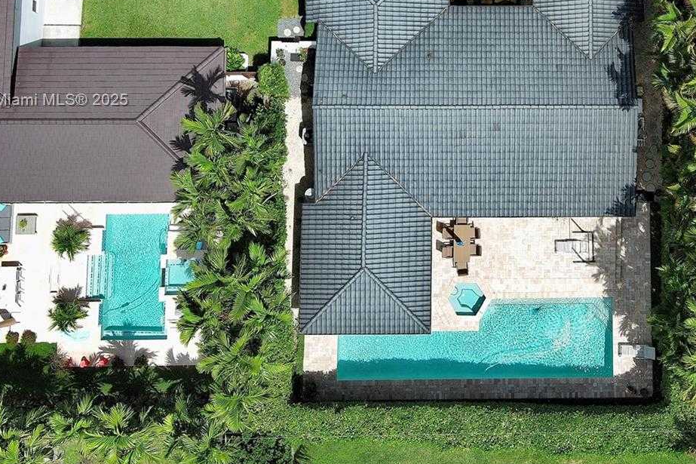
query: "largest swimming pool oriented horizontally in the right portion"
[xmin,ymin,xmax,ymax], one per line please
[332,293,618,385]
